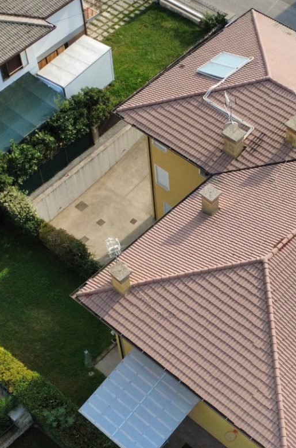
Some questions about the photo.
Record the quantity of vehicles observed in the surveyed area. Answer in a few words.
none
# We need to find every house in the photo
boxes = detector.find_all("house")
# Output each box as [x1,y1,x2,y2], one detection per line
[0,0,108,134]
[69,9,296,448]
